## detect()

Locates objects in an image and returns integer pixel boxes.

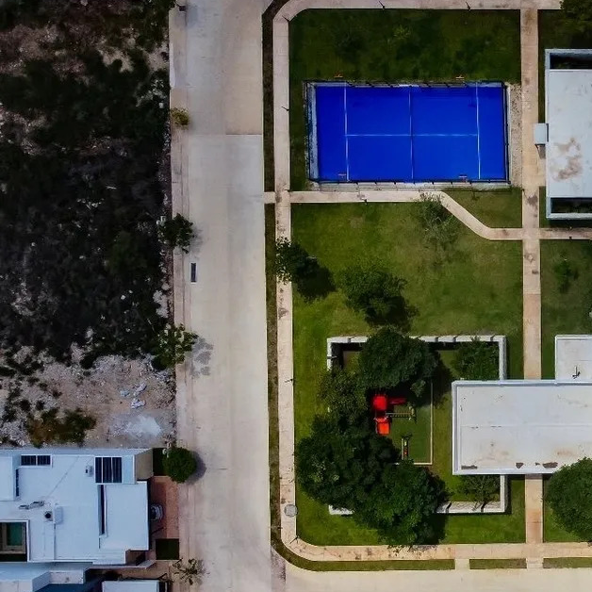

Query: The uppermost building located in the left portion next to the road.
[0,448,166,564]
